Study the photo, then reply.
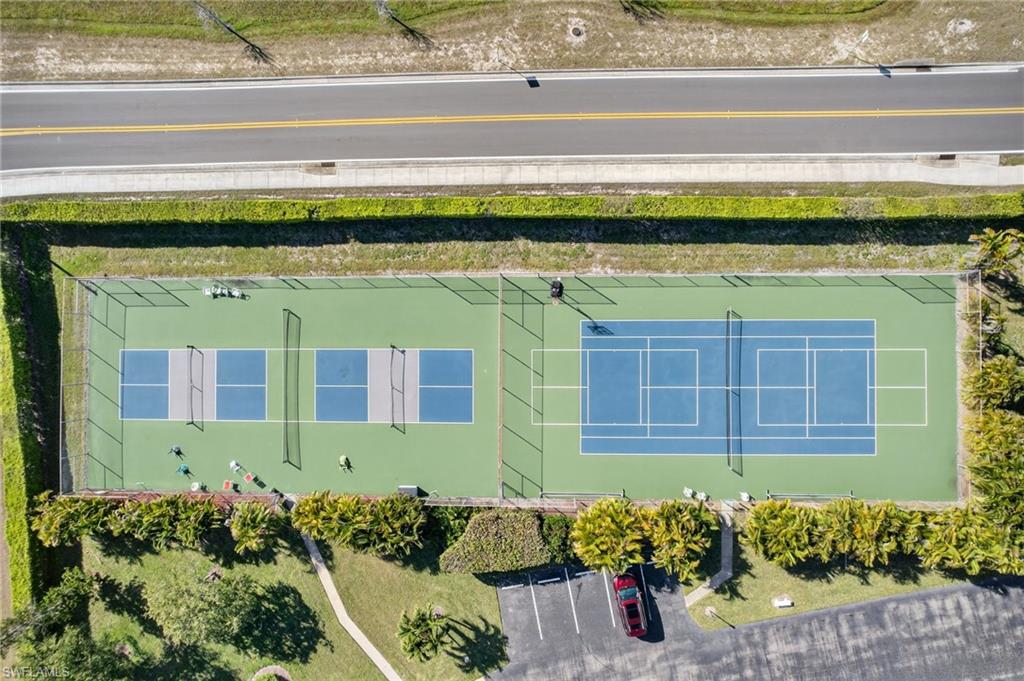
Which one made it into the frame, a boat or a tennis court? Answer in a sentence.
The one in the frame is a tennis court.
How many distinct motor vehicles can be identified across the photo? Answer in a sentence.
The photo contains exactly 1 motor vehicle.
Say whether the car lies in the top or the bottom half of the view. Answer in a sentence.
The car is in the bottom half of the image.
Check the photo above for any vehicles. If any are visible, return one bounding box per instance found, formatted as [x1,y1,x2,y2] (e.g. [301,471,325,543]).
[615,571,647,638]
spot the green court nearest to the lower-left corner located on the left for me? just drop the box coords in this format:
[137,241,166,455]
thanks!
[87,277,500,498]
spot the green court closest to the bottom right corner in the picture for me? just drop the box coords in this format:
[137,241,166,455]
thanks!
[501,275,959,502]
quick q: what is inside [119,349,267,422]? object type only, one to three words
sports court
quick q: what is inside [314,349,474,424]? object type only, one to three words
sports court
